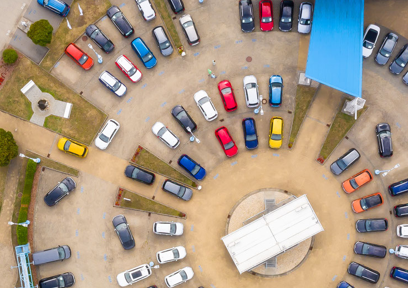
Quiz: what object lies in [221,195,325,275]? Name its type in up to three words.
building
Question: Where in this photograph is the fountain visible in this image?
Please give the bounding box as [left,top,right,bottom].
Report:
[21,83,64,127]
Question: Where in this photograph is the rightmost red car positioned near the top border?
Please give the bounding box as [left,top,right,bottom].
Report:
[258,0,275,30]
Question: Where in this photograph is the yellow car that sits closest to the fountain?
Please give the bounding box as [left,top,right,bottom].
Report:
[57,137,89,159]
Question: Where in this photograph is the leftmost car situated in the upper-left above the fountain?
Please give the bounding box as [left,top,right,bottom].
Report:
[35,0,72,19]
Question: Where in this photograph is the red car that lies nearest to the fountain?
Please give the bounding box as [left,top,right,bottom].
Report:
[65,41,93,71]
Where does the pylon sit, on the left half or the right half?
right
